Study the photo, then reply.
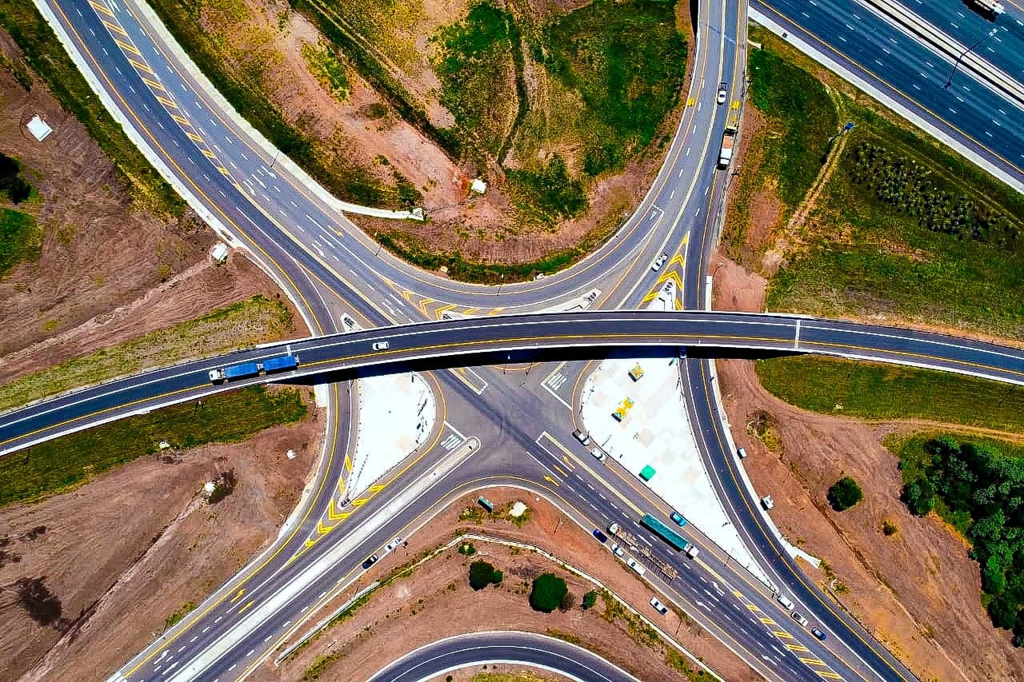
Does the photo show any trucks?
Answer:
Yes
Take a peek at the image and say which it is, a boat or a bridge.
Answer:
bridge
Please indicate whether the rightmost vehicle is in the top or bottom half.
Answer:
top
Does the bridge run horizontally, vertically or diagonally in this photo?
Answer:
horizontally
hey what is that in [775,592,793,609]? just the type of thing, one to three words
vehicle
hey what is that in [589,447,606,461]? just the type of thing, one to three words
car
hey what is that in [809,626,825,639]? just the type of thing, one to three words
vehicle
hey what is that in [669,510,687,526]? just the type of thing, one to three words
car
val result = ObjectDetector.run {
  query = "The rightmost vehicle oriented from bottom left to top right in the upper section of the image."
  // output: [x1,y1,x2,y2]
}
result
[652,252,668,271]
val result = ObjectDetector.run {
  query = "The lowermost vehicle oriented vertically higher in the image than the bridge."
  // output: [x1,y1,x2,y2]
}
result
[719,126,738,167]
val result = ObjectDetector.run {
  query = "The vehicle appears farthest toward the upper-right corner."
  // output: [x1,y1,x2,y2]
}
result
[962,0,1004,20]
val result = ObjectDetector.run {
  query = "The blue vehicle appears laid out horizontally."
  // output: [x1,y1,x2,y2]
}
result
[210,355,301,381]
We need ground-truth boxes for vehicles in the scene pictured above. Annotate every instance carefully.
[716,83,726,105]
[362,553,379,568]
[570,428,589,445]
[775,592,793,609]
[649,597,667,614]
[652,252,668,271]
[383,536,403,551]
[809,626,825,639]
[607,522,678,581]
[962,0,1004,20]
[641,510,702,559]
[789,609,808,626]
[678,345,686,361]
[719,126,738,167]
[609,543,626,558]
[210,355,301,381]
[626,557,646,575]
[591,528,607,543]
[669,510,687,526]
[589,447,606,461]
